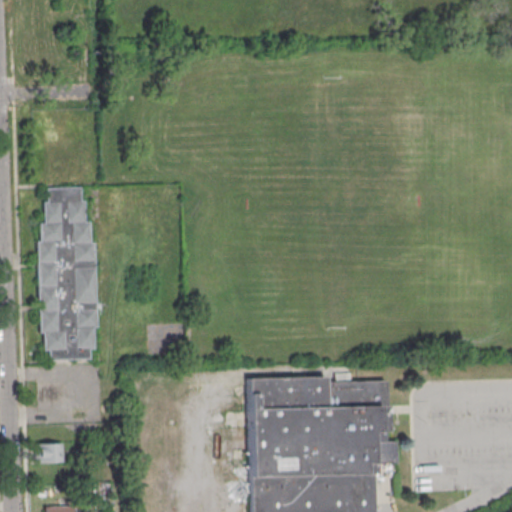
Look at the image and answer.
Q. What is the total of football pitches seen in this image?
1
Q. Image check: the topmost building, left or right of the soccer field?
to the left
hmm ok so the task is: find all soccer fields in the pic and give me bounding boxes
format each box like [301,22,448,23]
[249,78,415,328]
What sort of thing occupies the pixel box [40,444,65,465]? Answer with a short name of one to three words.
house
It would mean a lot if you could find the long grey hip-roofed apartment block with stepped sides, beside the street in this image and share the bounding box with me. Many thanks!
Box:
[38,186,102,361]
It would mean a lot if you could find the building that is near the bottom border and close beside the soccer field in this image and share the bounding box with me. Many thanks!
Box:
[244,378,398,512]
